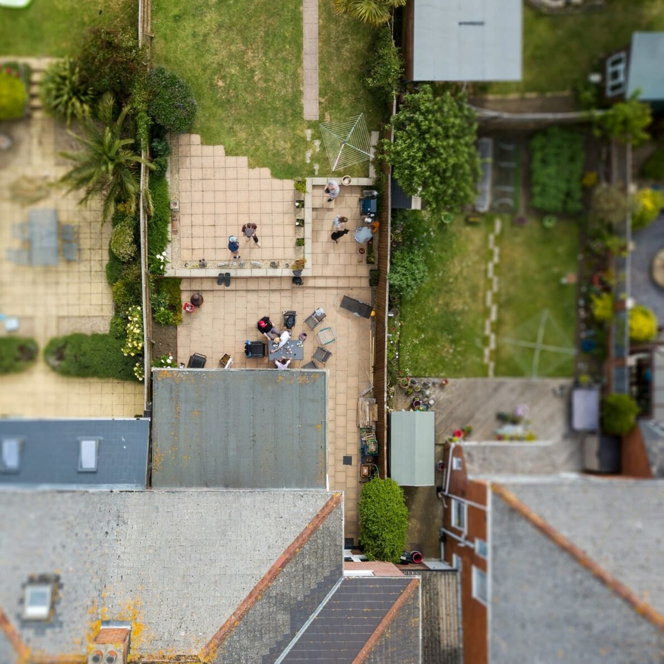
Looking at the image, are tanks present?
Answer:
No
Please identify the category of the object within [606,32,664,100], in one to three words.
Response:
shed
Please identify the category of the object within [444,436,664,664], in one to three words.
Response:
house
